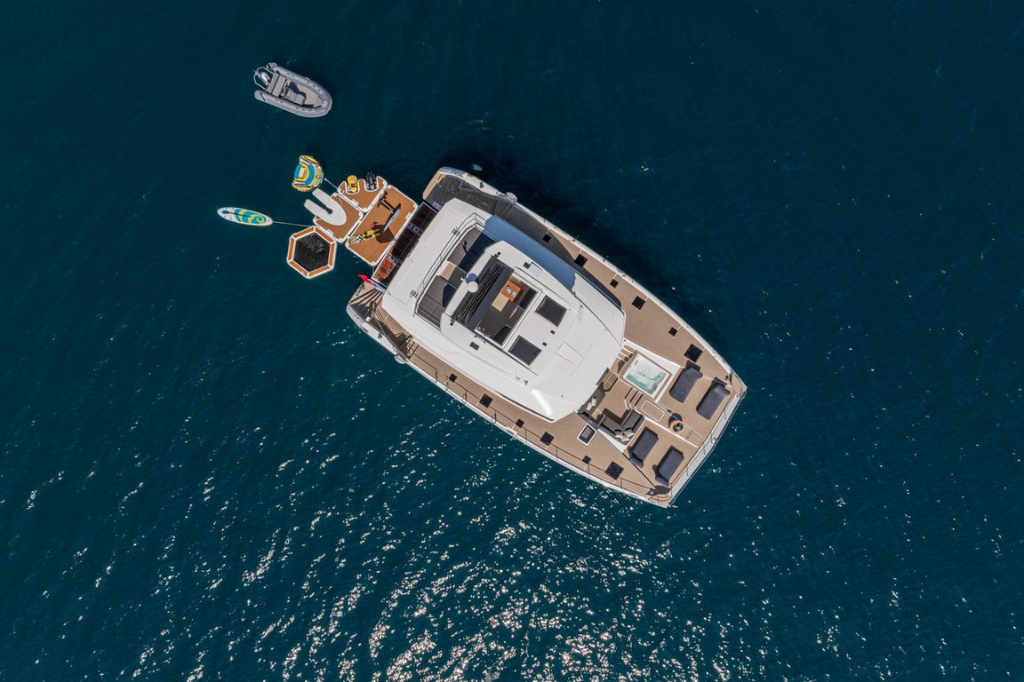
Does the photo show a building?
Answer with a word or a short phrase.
No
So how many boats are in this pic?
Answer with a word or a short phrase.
2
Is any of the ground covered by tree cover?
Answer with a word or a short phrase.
No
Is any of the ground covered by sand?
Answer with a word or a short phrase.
No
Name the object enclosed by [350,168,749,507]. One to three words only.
boat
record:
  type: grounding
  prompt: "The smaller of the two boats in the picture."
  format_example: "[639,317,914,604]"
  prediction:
[253,63,332,119]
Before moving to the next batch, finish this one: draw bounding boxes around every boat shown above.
[253,63,332,119]
[350,168,749,507]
